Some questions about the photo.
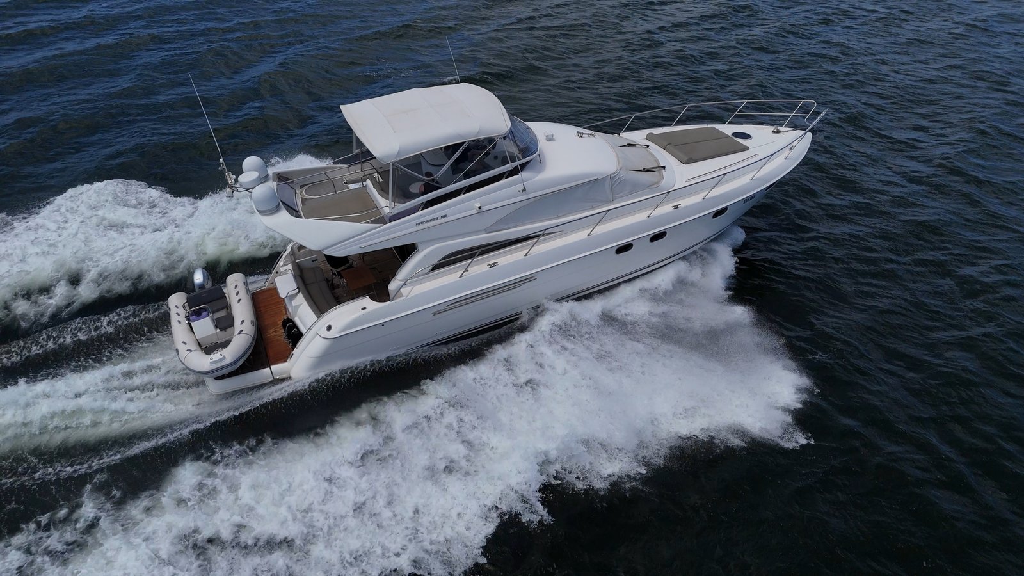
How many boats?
2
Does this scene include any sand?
No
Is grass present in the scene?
No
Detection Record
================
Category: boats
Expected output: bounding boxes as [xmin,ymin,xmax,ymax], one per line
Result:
[190,38,827,397]
[172,257,259,376]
